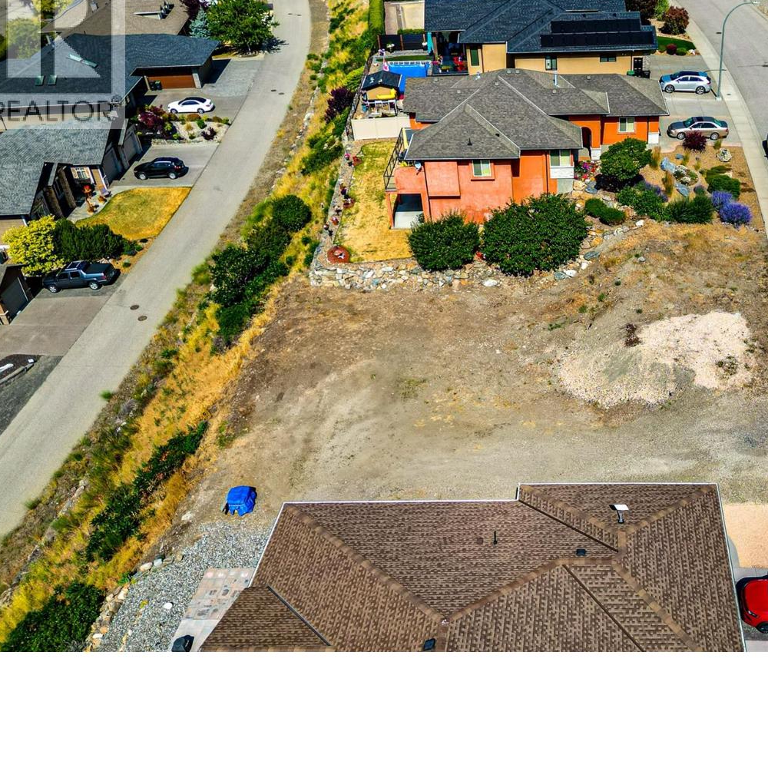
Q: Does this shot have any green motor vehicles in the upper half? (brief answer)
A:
No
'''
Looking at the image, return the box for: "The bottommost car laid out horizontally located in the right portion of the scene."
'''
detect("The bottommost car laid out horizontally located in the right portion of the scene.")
[666,112,727,136]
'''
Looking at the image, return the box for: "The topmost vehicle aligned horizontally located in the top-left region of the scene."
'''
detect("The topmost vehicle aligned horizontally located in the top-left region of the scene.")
[164,92,215,112]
